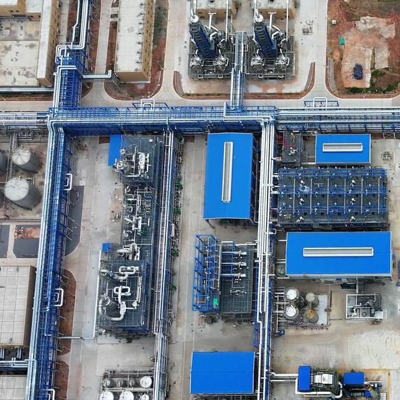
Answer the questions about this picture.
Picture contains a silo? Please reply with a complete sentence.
Yes, you can see a silo in this photo.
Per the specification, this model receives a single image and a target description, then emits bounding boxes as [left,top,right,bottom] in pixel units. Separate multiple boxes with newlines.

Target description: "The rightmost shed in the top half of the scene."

[315,134,372,168]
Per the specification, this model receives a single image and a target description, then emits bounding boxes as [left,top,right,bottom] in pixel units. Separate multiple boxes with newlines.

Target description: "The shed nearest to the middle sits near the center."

[203,132,259,225]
